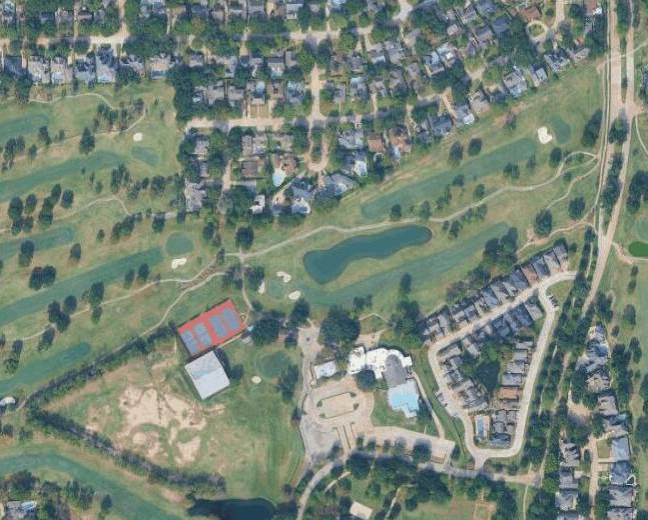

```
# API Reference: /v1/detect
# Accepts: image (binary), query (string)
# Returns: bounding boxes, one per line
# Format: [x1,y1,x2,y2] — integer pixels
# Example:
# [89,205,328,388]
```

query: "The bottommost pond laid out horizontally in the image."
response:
[185,495,279,520]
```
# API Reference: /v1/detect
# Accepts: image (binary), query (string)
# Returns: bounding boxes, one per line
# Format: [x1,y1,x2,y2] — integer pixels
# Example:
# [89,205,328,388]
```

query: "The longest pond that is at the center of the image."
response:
[300,220,435,286]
